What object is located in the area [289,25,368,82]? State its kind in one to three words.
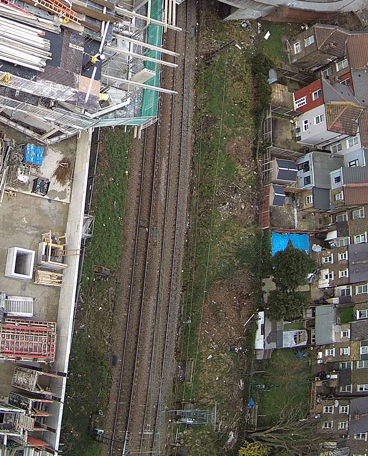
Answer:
house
